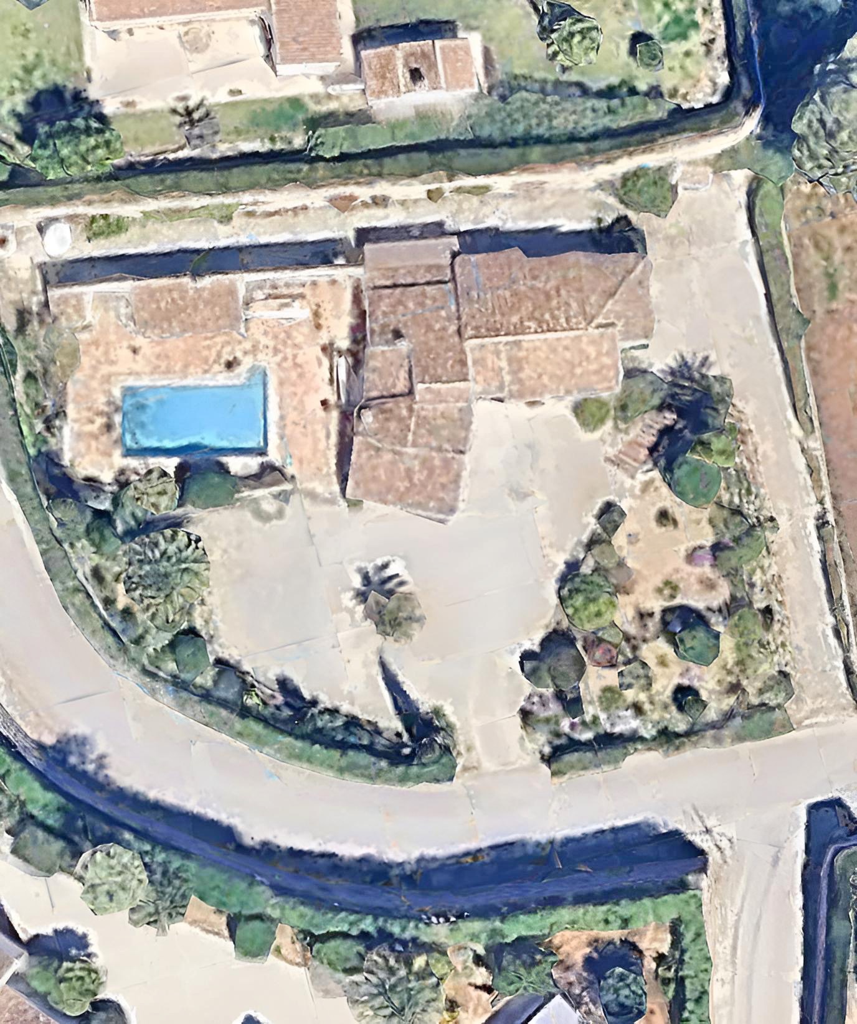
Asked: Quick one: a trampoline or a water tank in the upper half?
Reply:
water tank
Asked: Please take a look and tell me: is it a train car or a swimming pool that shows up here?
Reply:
swimming pool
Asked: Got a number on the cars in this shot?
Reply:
none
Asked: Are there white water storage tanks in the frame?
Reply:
Yes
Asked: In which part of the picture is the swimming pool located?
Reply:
left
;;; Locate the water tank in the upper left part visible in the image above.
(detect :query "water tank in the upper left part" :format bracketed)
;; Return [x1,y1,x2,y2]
[39,215,75,257]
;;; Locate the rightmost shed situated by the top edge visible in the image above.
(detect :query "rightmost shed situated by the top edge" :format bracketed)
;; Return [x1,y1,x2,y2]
[361,37,479,104]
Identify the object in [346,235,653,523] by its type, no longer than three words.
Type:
house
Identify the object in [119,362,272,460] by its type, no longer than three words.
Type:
swimming pool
